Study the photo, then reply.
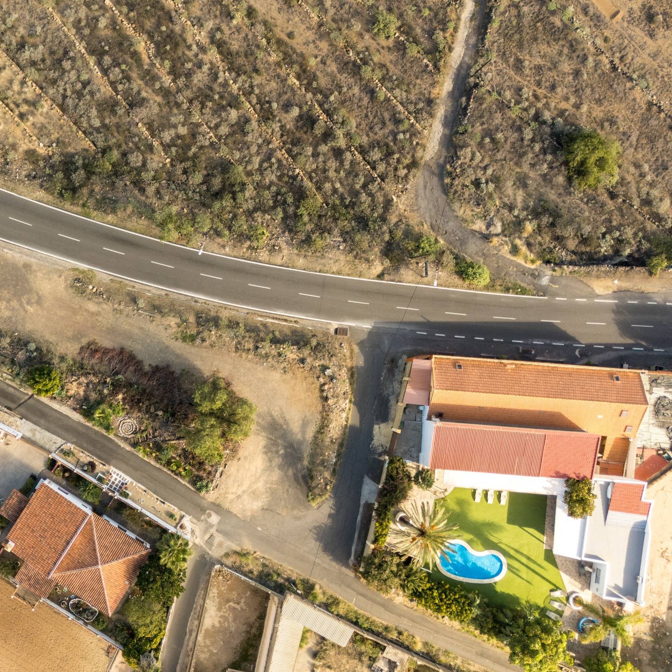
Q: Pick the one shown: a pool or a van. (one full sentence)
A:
Visible in the photo is a pool.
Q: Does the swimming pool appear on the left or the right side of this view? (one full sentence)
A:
It is on the right.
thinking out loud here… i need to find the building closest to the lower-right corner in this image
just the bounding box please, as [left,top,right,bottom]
[578,473,654,607]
